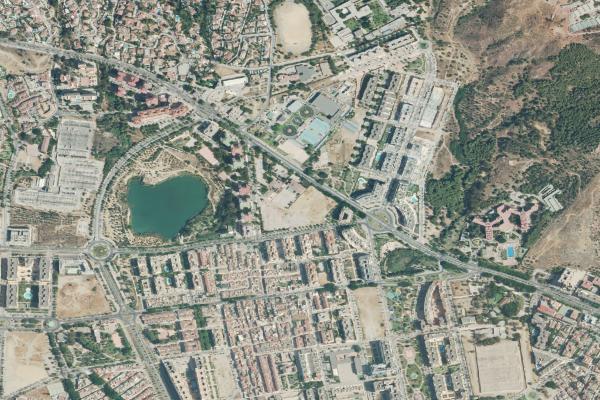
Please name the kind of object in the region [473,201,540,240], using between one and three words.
building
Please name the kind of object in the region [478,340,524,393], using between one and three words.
sports field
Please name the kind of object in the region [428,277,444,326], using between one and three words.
building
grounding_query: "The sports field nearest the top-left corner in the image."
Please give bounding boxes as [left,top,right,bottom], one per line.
[275,0,311,53]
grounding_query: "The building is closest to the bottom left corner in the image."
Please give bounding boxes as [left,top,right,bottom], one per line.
[47,377,67,399]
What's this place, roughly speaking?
residential area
